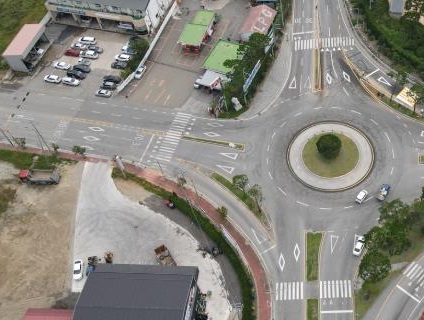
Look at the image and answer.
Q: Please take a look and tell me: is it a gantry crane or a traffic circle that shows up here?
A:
traffic circle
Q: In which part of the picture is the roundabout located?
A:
right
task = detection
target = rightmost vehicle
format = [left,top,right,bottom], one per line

[376,183,390,201]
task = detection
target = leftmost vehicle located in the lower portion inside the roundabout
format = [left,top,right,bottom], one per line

[356,190,369,204]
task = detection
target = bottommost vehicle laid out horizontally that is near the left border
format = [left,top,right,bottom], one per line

[17,169,61,184]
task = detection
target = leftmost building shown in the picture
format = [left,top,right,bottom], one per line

[2,25,46,68]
